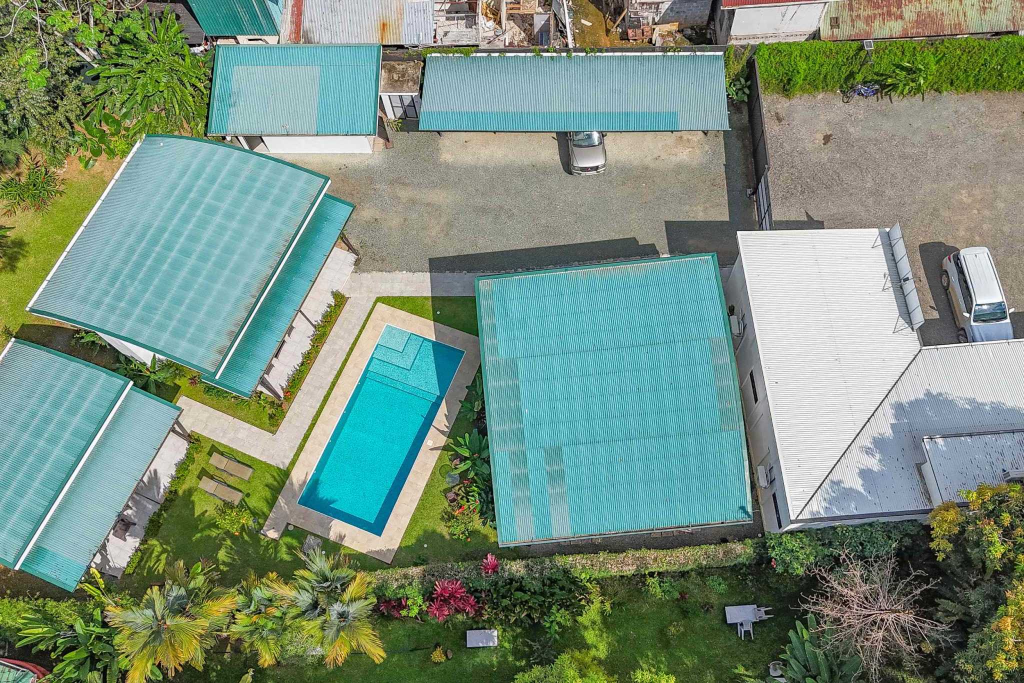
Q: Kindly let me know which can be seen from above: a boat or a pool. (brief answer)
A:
pool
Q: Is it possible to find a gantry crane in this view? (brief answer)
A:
No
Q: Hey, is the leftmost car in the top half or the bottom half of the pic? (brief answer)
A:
top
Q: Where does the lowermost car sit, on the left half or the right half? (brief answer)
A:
right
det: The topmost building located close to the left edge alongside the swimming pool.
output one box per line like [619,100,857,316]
[25,134,359,399]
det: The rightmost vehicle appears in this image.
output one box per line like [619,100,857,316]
[939,247,1021,344]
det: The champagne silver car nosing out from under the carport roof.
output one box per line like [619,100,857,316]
[564,133,612,176]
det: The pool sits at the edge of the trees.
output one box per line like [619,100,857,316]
[295,323,467,539]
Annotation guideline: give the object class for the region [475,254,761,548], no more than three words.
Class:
building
